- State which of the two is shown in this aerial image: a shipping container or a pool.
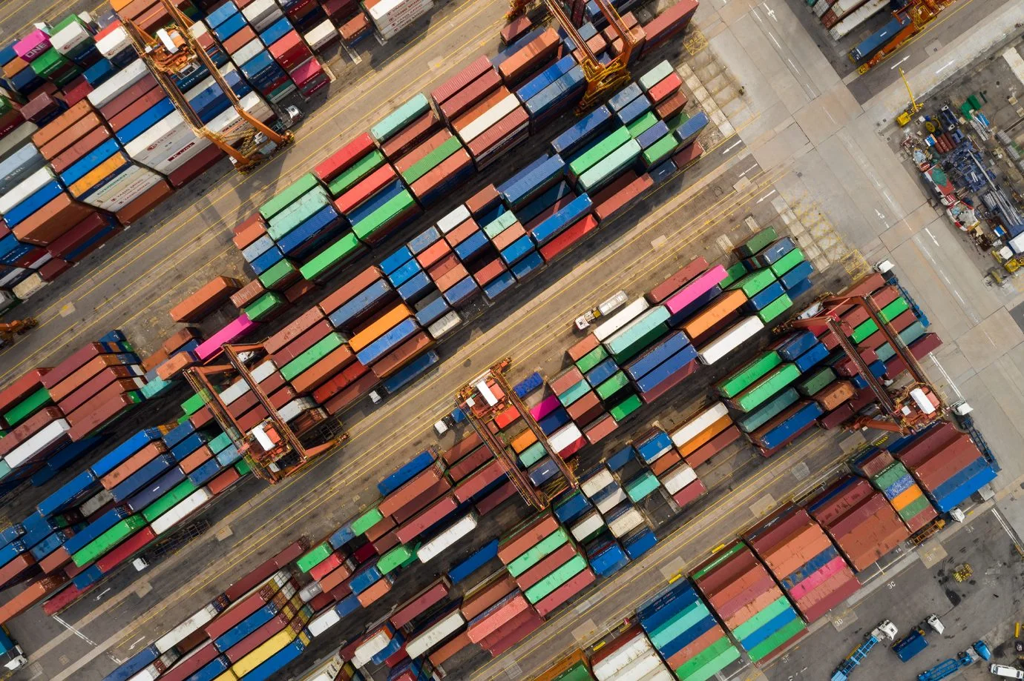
shipping container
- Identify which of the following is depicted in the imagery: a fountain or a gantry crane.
gantry crane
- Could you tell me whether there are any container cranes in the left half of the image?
Yes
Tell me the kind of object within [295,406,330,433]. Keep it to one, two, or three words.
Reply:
shipping container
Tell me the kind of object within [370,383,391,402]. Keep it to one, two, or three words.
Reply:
vehicle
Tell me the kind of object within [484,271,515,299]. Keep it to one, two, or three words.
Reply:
shipping container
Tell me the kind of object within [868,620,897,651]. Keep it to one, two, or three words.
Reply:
truck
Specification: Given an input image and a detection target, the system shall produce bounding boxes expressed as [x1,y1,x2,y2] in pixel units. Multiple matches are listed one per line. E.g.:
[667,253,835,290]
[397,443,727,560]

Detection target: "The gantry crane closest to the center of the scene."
[454,354,588,519]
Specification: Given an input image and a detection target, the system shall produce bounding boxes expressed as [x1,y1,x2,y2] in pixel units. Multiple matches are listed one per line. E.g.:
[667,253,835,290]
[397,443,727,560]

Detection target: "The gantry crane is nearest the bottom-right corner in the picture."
[772,287,954,442]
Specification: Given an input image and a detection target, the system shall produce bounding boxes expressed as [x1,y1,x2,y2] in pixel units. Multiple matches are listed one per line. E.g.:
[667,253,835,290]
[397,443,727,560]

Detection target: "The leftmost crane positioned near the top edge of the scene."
[114,0,295,170]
